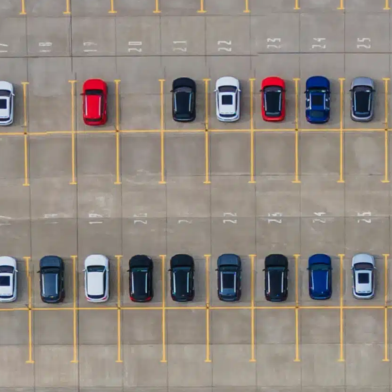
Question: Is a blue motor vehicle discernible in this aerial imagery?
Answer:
Yes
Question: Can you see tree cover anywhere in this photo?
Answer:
No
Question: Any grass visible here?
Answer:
No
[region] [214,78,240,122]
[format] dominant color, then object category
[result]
white car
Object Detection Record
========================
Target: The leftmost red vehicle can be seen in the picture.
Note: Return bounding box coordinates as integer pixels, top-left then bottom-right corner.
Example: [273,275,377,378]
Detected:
[81,80,107,127]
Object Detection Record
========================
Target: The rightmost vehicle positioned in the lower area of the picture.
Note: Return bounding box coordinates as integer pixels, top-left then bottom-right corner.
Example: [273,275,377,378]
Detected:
[350,254,376,299]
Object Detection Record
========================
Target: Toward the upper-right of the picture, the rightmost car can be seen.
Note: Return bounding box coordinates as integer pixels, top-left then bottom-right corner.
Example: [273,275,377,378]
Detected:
[350,78,375,122]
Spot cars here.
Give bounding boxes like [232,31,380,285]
[83,255,110,303]
[216,255,242,302]
[128,255,153,303]
[263,255,289,302]
[214,78,240,122]
[169,255,195,302]
[306,254,334,301]
[350,78,375,122]
[38,256,64,304]
[304,77,331,125]
[0,256,17,303]
[81,80,107,127]
[350,254,376,299]
[170,78,197,122]
[259,78,286,122]
[0,81,15,127]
